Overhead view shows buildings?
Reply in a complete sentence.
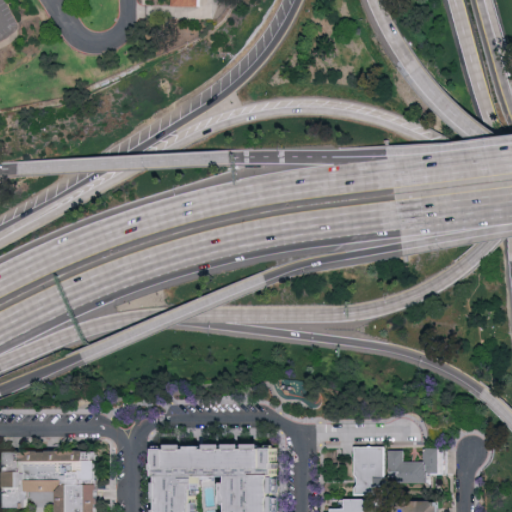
Yes, the picture does show a building.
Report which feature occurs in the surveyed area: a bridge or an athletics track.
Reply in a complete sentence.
Of the two, only a bridge appears.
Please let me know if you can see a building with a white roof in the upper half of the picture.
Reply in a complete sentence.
No, the scene shows no building with a white roof in the upper half of the picture.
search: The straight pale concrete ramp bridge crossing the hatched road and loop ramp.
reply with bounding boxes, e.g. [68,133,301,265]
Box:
[16,150,229,175]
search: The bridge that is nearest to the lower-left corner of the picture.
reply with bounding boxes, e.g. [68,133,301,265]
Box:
[82,274,266,364]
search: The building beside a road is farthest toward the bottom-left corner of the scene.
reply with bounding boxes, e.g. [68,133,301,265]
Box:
[0,452,98,512]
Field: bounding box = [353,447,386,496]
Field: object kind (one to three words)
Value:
building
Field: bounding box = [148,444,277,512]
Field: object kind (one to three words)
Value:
building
